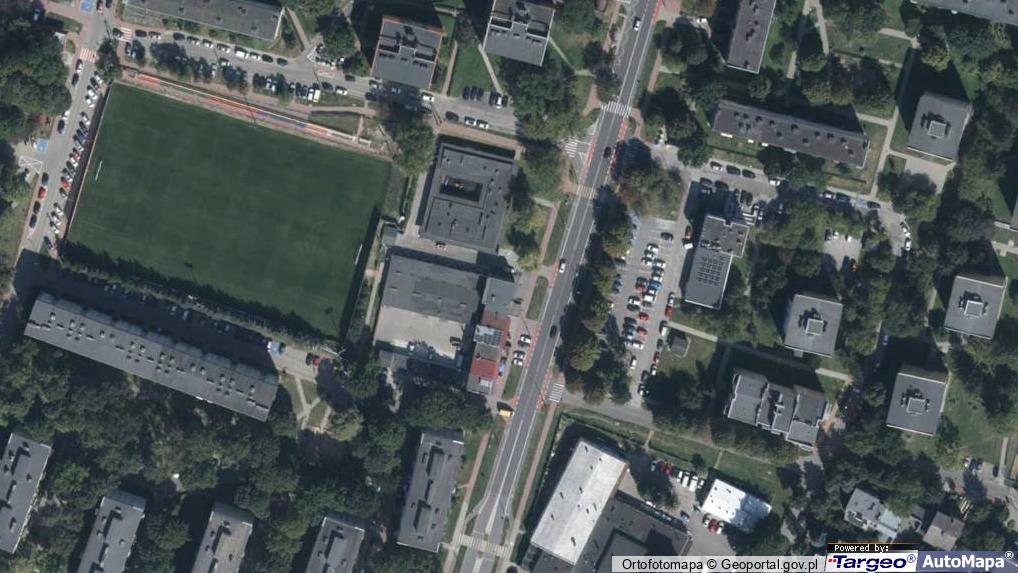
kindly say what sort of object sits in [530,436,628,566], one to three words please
building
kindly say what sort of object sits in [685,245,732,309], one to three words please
building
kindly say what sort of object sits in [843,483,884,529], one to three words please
house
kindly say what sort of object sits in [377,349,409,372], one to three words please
shed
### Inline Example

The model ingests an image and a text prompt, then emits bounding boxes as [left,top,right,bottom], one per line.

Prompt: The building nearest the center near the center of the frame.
[483,273,519,316]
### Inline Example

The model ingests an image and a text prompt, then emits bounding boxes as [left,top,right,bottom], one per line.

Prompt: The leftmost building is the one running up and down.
[0,425,56,553]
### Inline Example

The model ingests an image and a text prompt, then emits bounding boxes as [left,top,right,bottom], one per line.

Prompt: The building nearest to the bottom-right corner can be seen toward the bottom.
[921,508,967,558]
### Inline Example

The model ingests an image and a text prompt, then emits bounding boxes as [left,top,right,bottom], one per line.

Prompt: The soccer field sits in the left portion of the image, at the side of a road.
[64,84,393,337]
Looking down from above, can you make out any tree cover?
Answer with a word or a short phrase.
Yes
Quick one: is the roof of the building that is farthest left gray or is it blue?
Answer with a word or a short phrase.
gray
